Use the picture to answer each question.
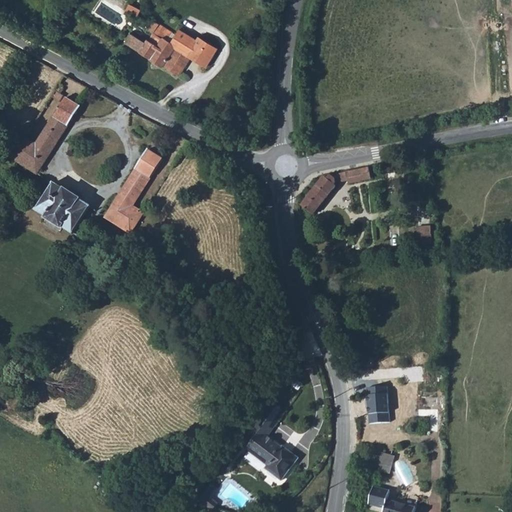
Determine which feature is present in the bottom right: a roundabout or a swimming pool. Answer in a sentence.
There is a swimming pool in the bottom right.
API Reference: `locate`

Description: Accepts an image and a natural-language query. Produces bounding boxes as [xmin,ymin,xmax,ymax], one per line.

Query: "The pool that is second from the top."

[392,457,418,488]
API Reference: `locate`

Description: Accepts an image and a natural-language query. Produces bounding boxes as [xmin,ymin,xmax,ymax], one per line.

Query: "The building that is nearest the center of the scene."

[300,173,336,214]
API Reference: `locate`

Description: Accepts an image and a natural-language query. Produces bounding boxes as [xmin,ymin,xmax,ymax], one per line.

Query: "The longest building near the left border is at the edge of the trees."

[14,90,79,174]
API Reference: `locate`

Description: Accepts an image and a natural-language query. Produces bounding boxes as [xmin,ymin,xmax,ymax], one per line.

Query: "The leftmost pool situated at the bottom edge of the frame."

[218,478,252,510]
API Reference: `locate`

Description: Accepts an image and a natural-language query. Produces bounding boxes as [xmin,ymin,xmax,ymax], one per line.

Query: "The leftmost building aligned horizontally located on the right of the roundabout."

[340,166,372,184]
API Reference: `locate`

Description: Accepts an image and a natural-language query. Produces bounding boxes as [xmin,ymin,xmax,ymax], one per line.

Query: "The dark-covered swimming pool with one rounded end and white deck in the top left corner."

[92,0,126,30]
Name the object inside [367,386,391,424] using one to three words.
house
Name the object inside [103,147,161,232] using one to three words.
shed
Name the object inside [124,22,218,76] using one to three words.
house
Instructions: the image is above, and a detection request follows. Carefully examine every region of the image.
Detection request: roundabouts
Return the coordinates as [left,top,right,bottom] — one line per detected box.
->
[262,136,313,208]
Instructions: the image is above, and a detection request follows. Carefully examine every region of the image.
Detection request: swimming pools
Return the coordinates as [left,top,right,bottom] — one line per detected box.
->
[218,478,252,510]
[92,0,126,30]
[392,457,418,488]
